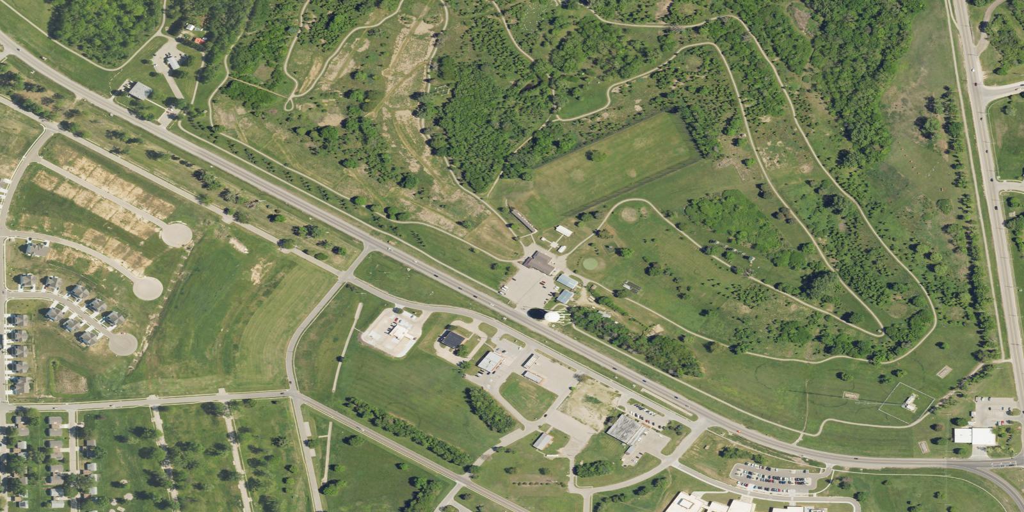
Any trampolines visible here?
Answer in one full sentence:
No, this view has no trampoline in it.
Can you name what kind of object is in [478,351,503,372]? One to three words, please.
building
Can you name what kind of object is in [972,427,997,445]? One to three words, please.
building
